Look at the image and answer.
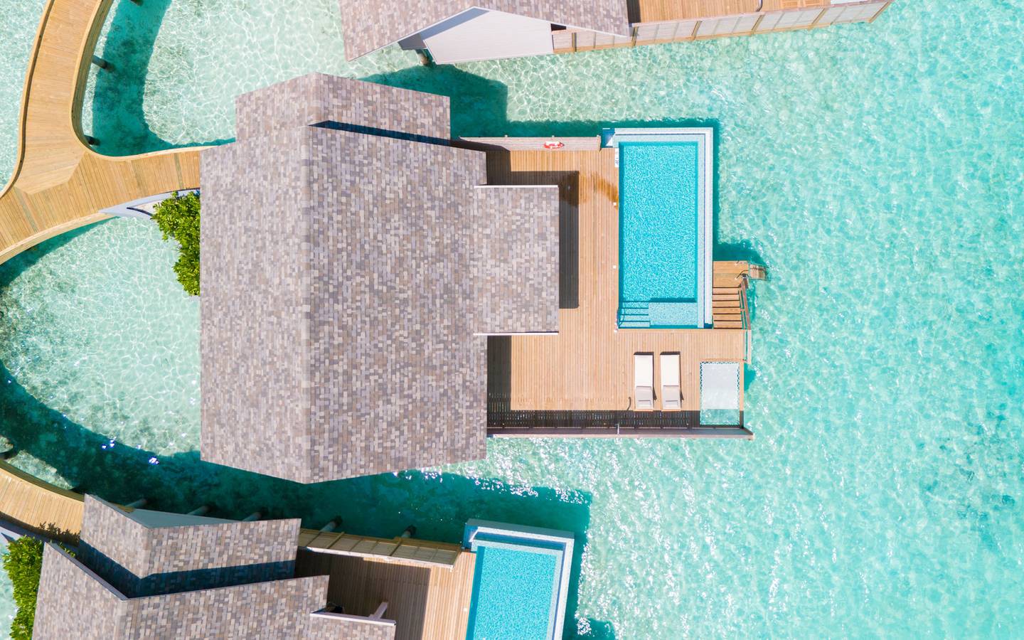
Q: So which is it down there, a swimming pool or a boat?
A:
swimming pool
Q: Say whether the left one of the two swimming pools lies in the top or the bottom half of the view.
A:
bottom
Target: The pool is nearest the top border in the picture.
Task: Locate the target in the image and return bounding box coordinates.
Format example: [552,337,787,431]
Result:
[598,127,713,333]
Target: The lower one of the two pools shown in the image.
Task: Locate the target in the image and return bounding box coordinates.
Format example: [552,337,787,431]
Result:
[459,517,575,640]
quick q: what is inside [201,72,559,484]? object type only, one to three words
house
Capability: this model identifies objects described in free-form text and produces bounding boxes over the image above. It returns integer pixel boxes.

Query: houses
[339,0,626,65]
[32,493,396,640]
[201,72,559,484]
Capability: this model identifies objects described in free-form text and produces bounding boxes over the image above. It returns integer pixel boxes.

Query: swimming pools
[598,127,713,333]
[459,517,575,640]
